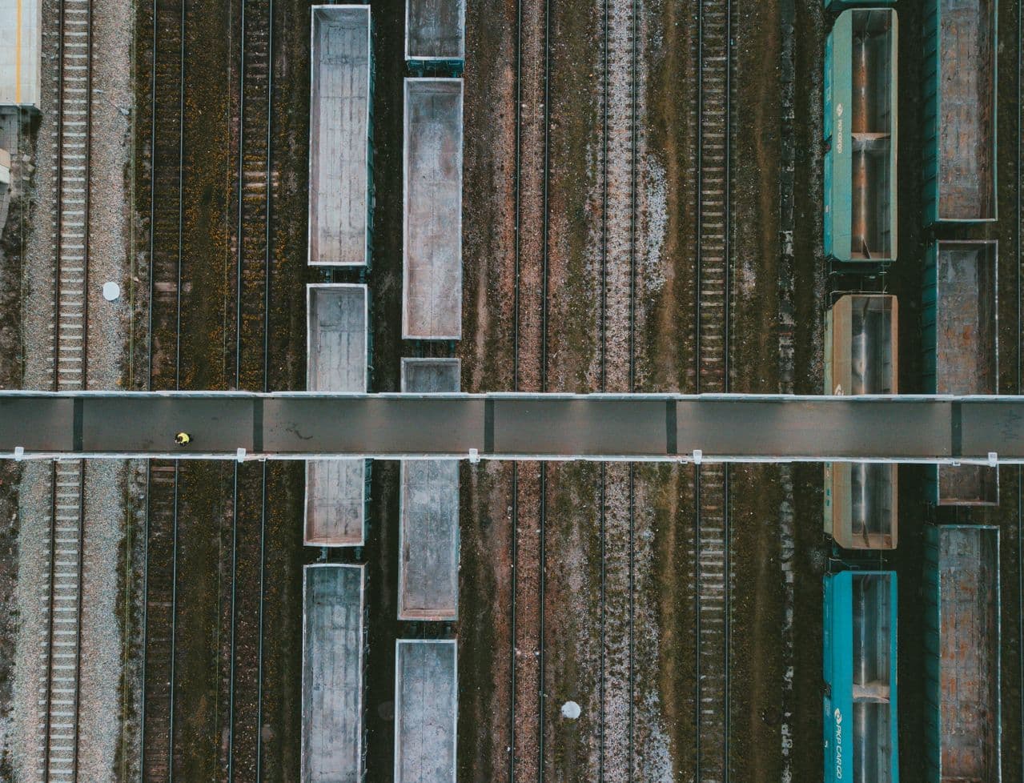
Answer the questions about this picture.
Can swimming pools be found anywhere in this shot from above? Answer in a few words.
No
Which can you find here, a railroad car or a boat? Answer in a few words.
railroad car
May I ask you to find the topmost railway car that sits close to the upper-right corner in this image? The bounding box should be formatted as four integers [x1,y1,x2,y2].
[826,0,880,21]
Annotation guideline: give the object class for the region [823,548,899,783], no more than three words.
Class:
rail car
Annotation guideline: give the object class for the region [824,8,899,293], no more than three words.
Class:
rail car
